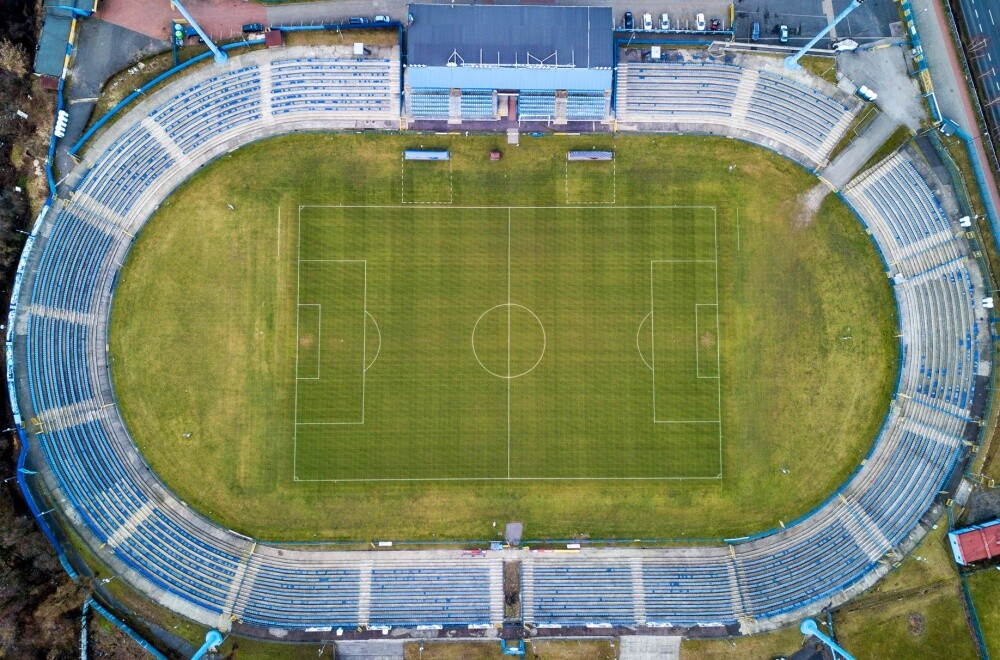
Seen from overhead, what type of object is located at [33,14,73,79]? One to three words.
building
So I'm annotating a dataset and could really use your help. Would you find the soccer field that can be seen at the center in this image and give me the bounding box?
[278,153,739,488]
